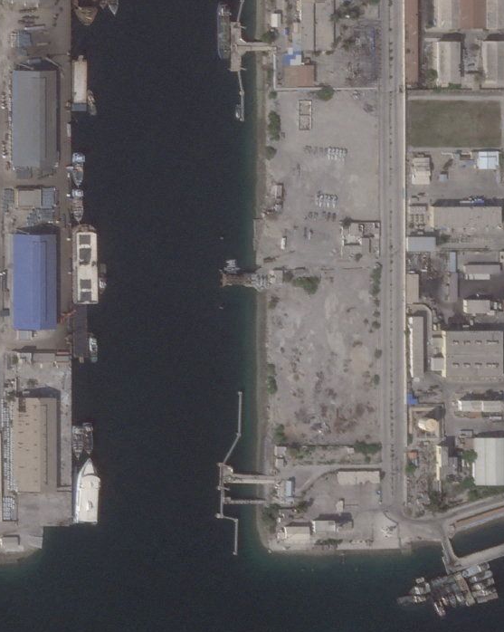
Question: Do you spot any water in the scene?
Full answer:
Yes, there is water in the image.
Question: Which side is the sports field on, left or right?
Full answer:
The sports field is on the right side of the image.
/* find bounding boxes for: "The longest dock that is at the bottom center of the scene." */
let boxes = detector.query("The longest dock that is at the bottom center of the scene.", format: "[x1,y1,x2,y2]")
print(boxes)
[216,391,275,555]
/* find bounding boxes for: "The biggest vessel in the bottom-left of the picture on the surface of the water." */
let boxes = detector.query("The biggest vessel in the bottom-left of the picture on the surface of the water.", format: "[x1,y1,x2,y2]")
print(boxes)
[75,459,101,523]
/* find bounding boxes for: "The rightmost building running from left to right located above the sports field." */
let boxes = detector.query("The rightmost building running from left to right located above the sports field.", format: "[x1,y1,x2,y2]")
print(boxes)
[434,0,504,28]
